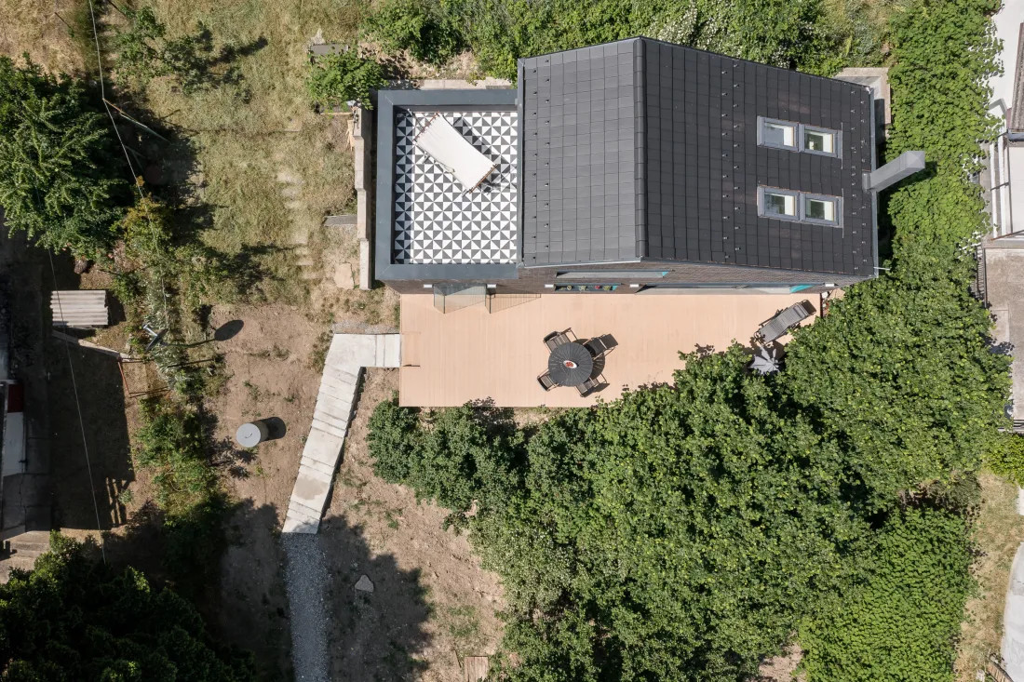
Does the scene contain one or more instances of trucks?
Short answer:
No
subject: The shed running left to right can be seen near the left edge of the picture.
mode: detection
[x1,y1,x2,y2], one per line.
[50,290,136,330]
